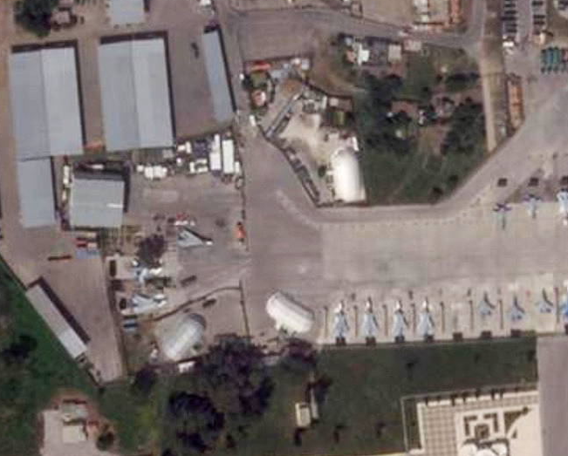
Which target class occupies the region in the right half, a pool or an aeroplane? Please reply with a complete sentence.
You can see an aeroplane in the right half.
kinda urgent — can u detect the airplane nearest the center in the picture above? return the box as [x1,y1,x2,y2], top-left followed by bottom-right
[176,230,211,245]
